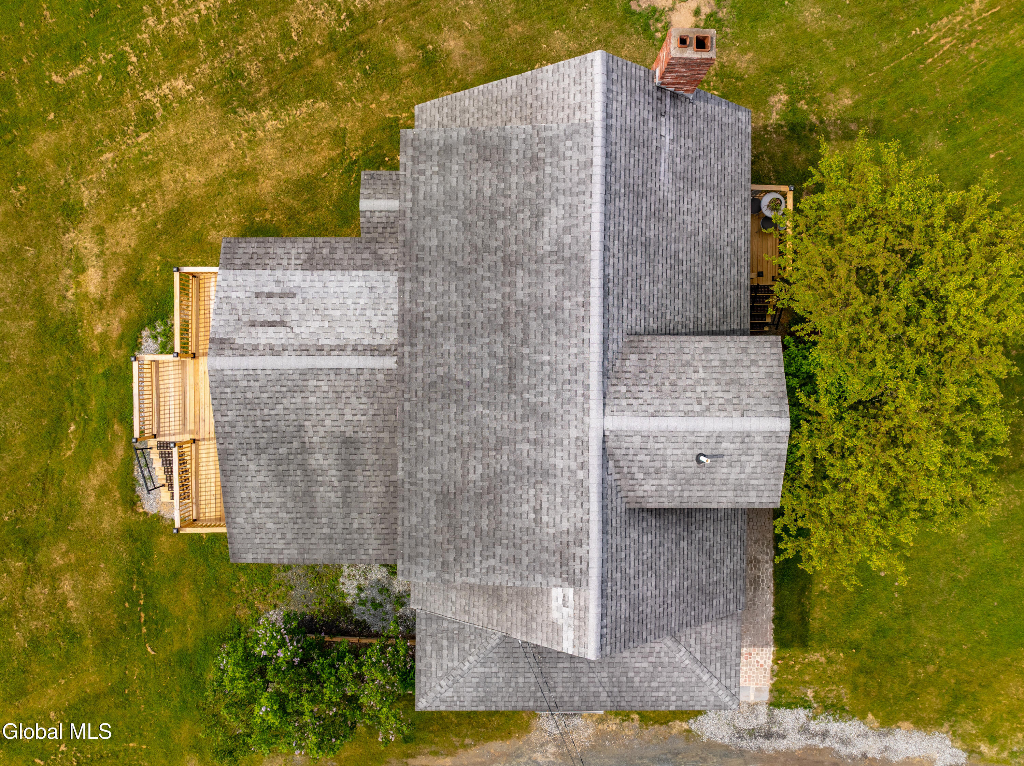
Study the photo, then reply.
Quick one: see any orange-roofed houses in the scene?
No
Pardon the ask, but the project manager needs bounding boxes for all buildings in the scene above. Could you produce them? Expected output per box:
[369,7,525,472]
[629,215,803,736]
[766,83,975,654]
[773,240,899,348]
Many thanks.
[207,27,791,714]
